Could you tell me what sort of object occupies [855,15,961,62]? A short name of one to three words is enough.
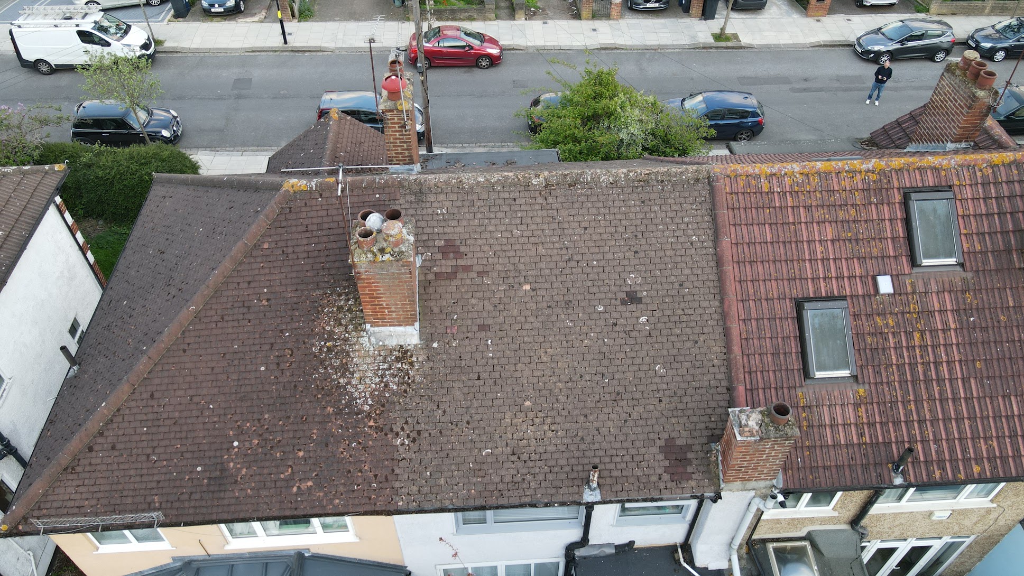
car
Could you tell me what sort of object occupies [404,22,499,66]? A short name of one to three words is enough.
car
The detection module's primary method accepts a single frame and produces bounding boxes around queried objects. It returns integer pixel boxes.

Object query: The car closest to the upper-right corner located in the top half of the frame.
[970,14,1024,61]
